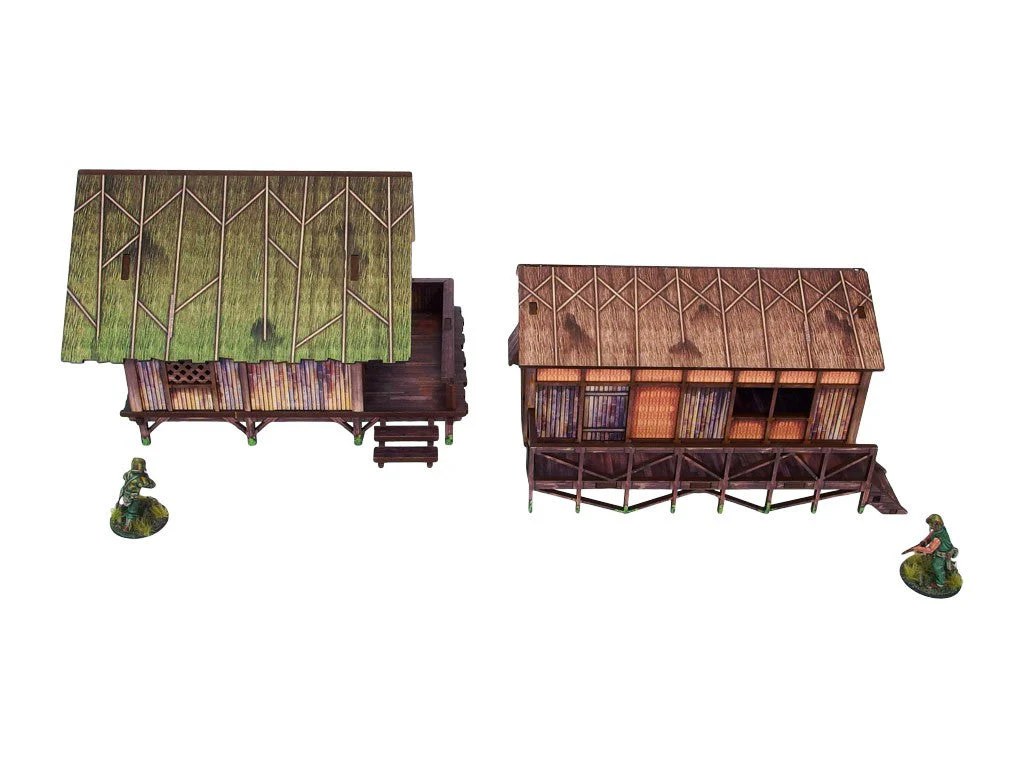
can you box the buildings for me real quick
[59,170,469,467]
[508,264,907,513]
